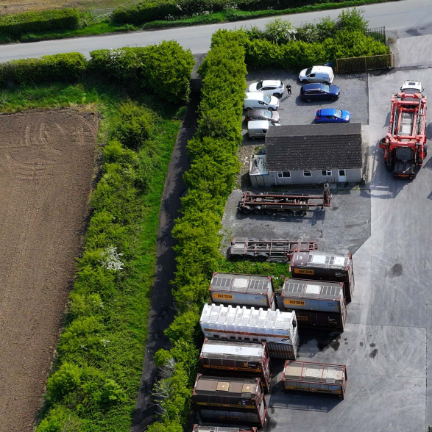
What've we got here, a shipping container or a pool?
shipping container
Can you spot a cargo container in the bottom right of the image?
Yes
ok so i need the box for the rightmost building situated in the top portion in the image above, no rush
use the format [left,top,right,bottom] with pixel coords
[265,124,362,187]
